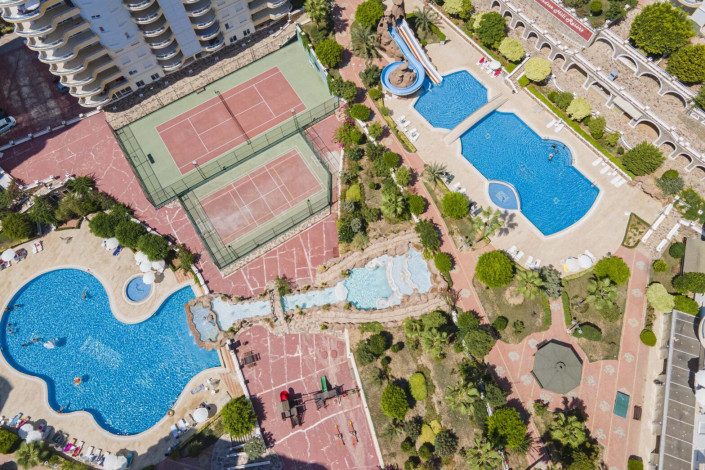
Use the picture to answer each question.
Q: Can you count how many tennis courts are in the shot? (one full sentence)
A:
In total, 2 tennis courts can be seen.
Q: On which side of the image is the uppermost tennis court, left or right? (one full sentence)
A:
The uppermost tennis court appears in the left half of the scene.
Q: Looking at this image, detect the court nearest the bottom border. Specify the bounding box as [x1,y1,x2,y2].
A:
[180,132,330,266]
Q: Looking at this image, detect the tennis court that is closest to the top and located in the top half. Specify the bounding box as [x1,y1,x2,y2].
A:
[116,40,336,194]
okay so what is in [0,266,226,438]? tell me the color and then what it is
blue swimming pool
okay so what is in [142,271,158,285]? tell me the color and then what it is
white umbrella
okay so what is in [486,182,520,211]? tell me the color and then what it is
blue swimming pool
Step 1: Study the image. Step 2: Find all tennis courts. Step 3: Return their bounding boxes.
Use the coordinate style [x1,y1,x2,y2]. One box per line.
[116,40,336,194]
[180,132,330,266]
